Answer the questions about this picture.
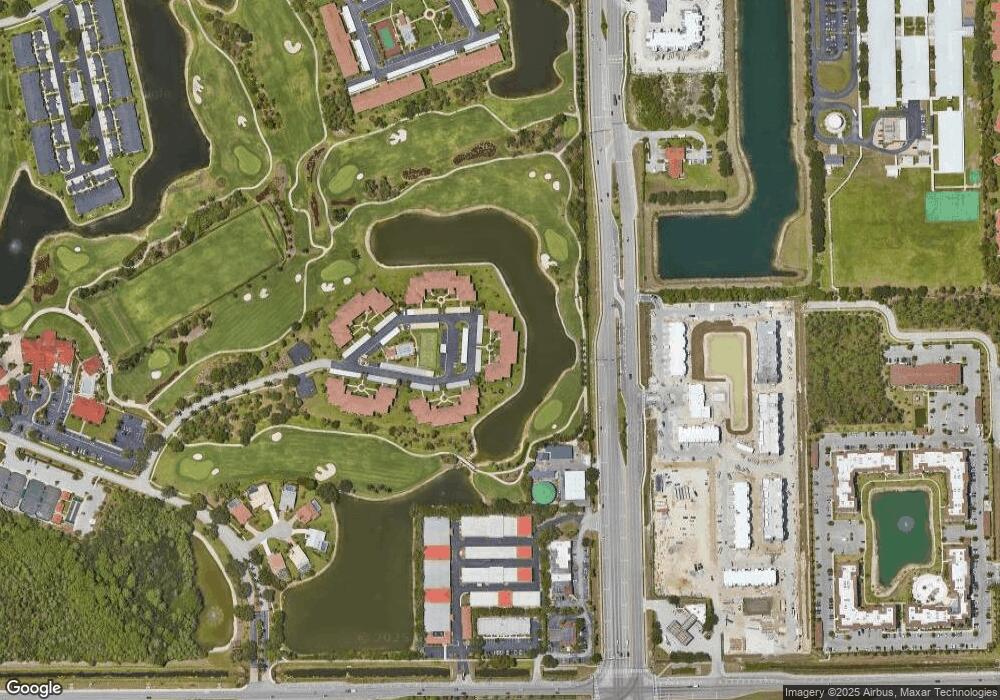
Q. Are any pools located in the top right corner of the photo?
No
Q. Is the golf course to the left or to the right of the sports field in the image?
left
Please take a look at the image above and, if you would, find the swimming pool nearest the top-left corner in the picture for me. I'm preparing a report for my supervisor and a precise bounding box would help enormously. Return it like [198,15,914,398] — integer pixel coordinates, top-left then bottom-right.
[69,72,84,103]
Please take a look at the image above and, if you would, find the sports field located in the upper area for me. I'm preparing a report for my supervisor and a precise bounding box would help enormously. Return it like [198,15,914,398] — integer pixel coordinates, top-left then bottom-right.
[830,174,981,287]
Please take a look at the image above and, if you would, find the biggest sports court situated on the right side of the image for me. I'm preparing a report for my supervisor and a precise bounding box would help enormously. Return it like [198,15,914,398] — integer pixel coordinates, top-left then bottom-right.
[925,191,979,222]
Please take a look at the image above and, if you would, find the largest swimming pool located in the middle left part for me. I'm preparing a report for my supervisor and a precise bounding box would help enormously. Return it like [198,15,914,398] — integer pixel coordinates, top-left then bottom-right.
[78,373,99,398]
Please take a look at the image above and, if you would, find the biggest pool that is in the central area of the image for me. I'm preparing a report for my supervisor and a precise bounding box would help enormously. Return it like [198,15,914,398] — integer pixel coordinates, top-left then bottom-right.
[394,342,415,359]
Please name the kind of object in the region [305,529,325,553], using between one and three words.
house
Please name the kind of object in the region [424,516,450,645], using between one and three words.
building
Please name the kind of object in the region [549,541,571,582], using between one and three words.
building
